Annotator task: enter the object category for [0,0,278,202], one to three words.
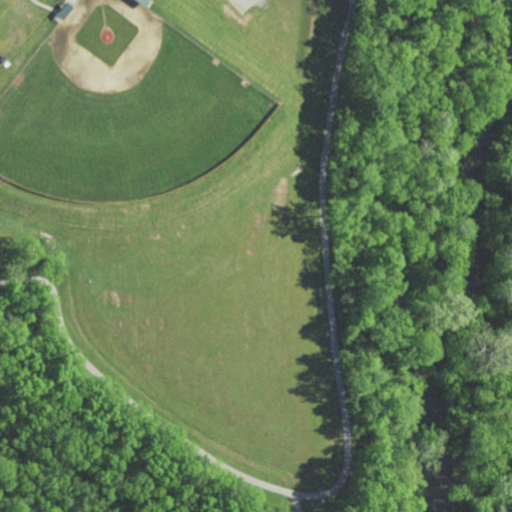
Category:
baseball field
